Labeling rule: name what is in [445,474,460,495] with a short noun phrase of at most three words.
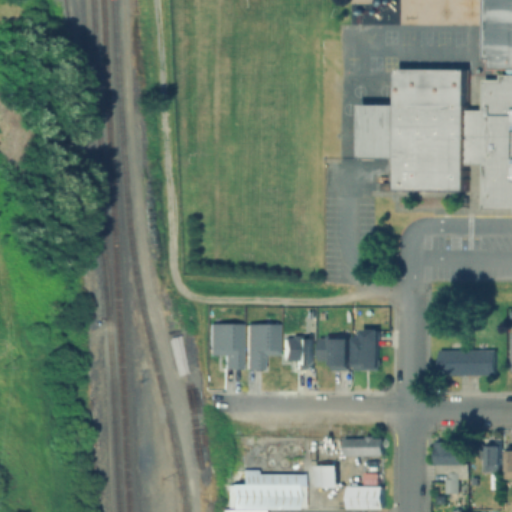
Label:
building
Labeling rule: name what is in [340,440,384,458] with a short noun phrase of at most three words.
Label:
building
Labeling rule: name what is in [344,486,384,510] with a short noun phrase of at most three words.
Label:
barn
